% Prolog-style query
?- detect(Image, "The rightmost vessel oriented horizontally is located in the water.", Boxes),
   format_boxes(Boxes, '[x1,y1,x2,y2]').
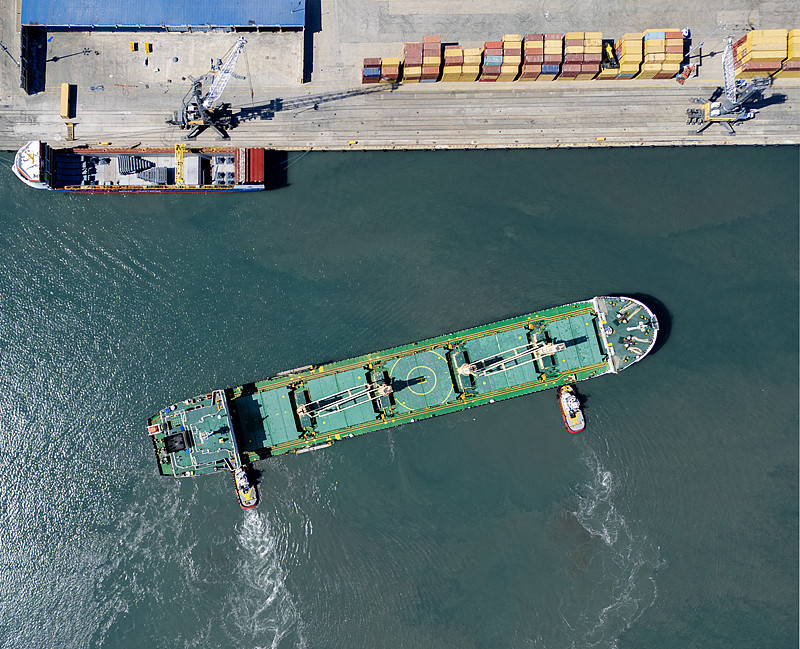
[144,295,666,478]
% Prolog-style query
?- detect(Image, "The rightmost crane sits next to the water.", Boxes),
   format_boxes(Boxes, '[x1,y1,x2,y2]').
[688,37,772,134]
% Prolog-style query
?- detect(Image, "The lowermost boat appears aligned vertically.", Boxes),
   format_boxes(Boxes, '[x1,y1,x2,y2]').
[231,463,259,510]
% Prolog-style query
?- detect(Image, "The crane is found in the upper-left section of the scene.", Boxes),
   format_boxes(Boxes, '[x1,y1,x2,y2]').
[174,36,260,140]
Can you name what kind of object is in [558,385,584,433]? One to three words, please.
boat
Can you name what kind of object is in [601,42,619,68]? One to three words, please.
work vehicle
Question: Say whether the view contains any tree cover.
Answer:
No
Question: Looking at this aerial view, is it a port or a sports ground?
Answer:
port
